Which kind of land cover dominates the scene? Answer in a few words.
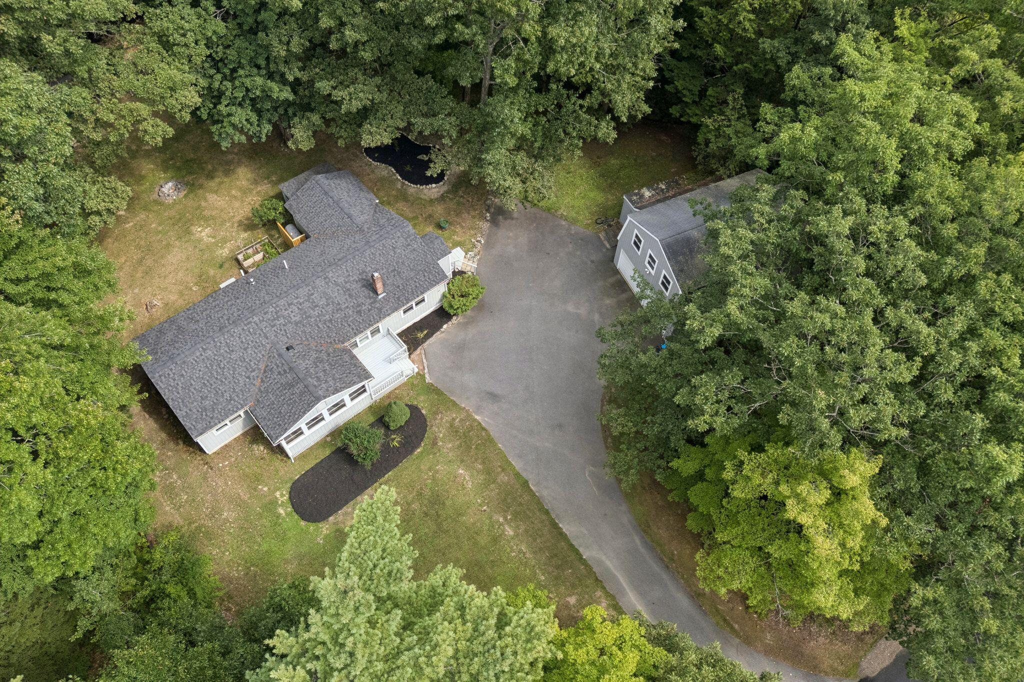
trees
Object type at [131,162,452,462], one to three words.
house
